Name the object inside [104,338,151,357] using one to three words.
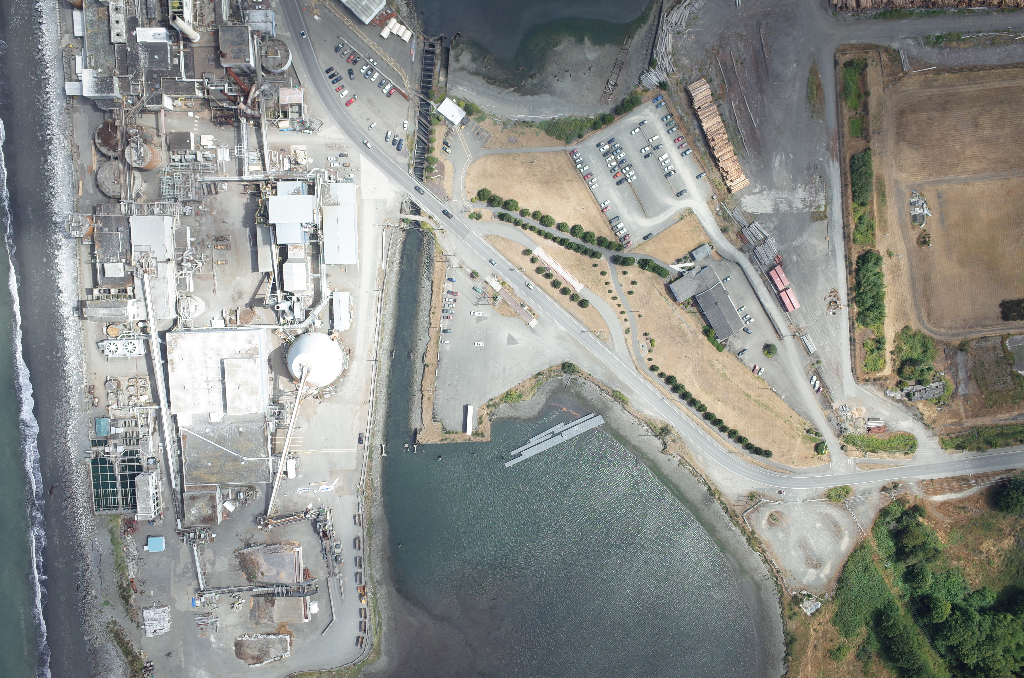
cooling tower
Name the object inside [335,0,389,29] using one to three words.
building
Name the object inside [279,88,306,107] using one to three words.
building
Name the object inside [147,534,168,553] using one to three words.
shed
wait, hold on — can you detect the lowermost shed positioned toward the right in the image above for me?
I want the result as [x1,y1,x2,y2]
[886,378,945,404]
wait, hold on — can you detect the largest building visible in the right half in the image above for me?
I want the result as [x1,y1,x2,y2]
[667,266,744,340]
